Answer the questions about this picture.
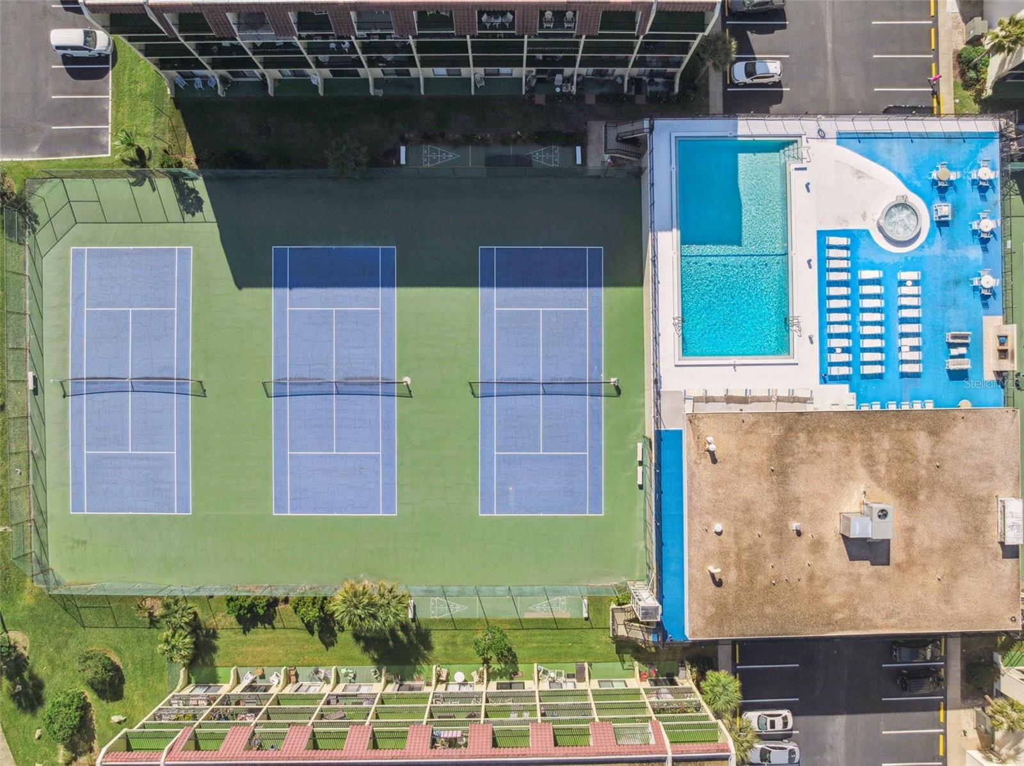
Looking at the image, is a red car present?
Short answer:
No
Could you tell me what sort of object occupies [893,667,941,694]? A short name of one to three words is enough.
car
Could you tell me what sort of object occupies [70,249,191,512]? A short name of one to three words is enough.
tennis court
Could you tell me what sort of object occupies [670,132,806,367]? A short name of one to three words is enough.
swimming pool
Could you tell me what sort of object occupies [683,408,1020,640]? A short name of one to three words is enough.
building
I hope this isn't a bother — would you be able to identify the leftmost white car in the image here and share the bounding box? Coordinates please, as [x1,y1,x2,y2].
[51,29,116,59]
